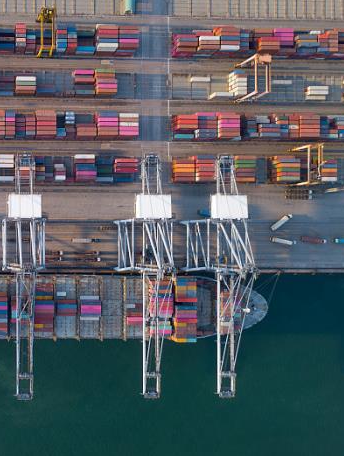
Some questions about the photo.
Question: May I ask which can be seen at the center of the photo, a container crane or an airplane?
container crane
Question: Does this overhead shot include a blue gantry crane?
No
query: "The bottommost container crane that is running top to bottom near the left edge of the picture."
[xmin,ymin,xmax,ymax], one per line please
[0,154,47,399]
